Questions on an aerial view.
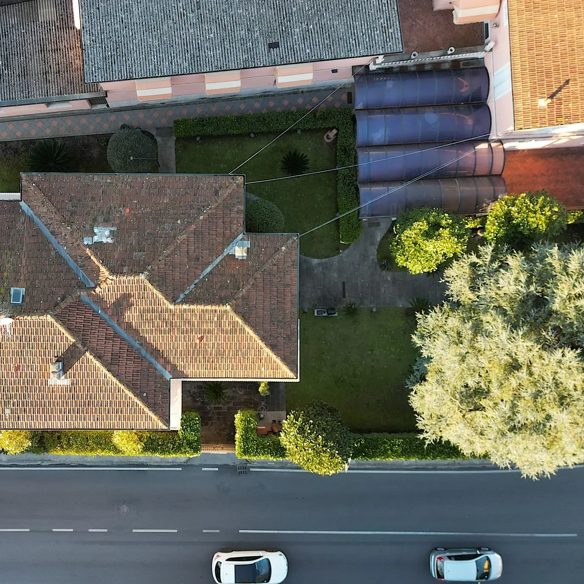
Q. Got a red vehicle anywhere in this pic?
No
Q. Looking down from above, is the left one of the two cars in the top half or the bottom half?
bottom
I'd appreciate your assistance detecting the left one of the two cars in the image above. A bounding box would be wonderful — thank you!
[213,547,286,584]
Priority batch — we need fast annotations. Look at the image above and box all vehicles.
[429,545,500,584]
[213,547,286,584]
